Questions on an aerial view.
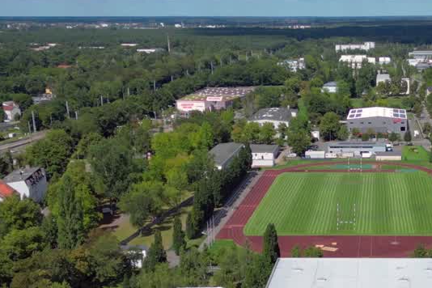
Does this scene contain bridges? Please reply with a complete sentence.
No, no bridge is visible in the scene.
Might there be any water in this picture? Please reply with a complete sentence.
No, the picture contains no water.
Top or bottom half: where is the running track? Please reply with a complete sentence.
The bottom half of the photo is where the running track is.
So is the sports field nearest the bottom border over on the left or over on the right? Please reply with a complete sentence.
The sports field nearest the bottom border is on the right side of the image.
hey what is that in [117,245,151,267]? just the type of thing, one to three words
building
